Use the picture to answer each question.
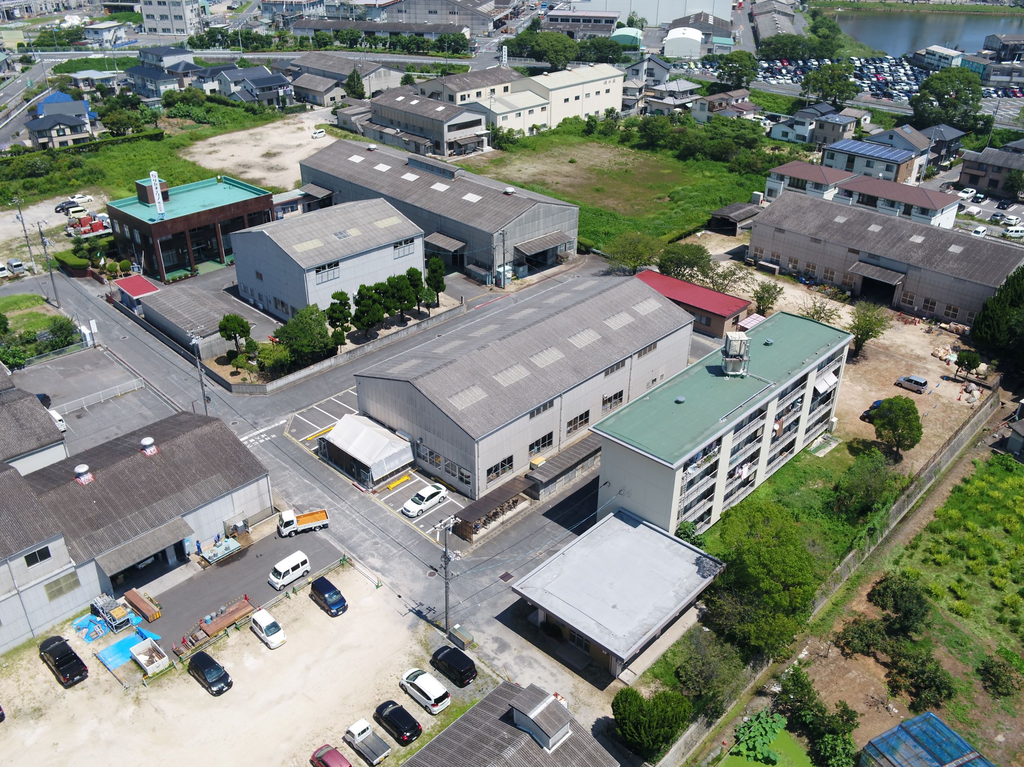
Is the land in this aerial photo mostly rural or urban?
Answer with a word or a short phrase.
urban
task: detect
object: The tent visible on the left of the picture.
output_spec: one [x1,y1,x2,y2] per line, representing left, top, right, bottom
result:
[321,415,414,486]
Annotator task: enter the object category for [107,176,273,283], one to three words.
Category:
building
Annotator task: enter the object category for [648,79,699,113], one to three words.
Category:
house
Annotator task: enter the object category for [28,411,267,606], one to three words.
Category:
shed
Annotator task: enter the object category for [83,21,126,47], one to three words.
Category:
building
